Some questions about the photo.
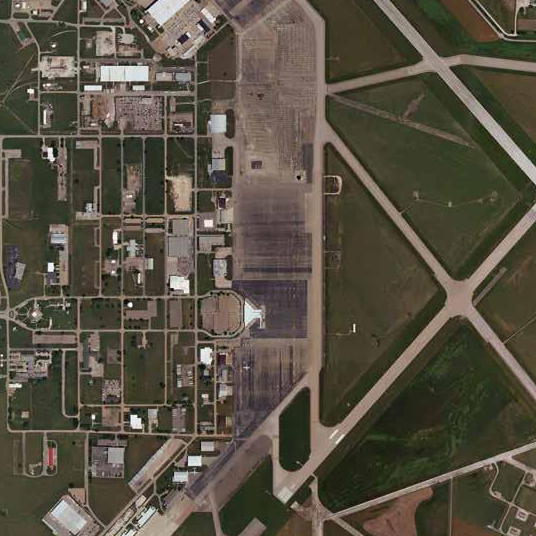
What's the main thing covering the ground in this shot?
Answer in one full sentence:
The scene is dominated by grass.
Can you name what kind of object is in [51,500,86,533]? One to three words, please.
building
